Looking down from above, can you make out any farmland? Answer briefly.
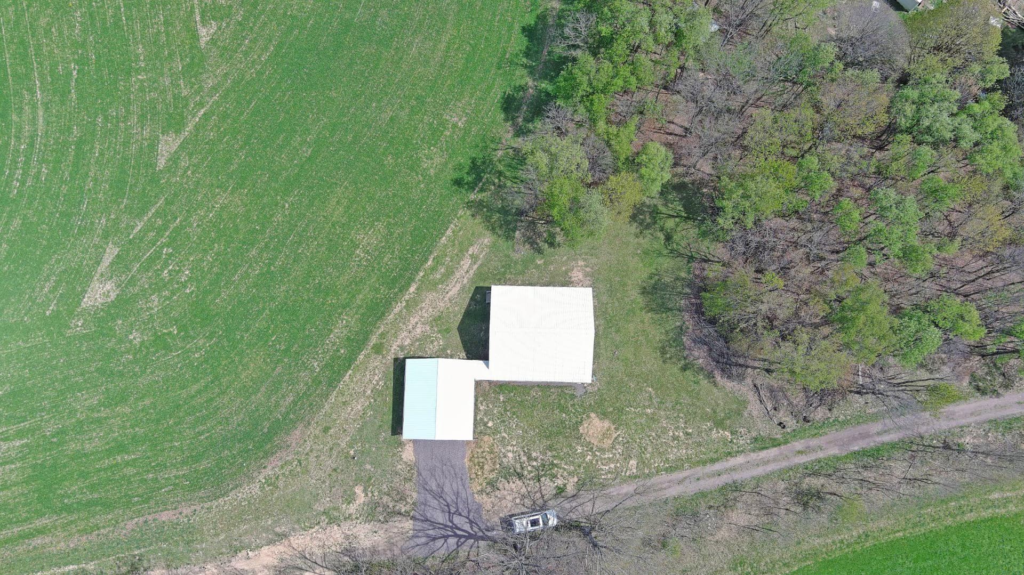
Yes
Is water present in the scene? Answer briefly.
No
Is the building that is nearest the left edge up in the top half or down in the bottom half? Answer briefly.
bottom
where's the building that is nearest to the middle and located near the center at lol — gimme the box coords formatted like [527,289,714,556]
[489,285,595,385]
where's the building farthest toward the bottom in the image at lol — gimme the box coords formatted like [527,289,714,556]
[401,358,476,441]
